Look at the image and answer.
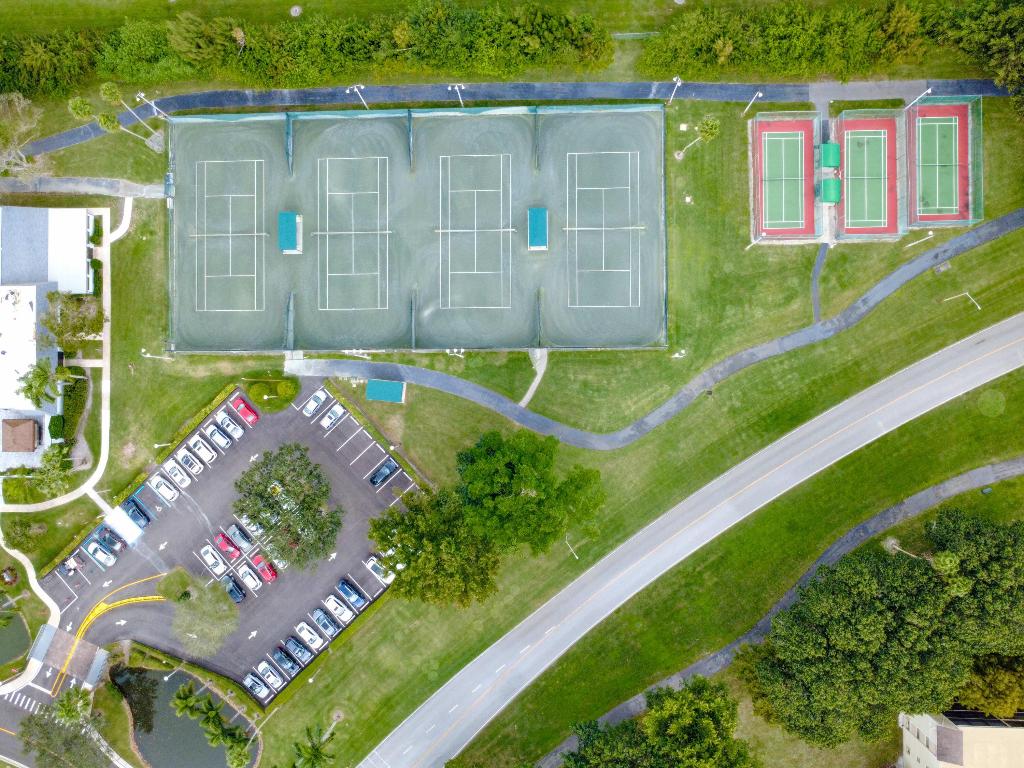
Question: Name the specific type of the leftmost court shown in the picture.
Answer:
tennis court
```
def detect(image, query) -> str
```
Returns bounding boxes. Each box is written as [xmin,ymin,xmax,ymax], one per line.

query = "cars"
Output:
[272,646,300,677]
[232,396,257,424]
[179,449,202,474]
[259,661,283,688]
[228,523,254,551]
[200,545,228,575]
[264,541,291,571]
[297,620,323,650]
[314,608,340,637]
[251,553,278,582]
[189,435,217,464]
[164,461,190,489]
[219,572,247,601]
[367,555,391,582]
[286,636,310,663]
[88,541,114,567]
[238,565,262,591]
[370,459,396,484]
[301,390,329,417]
[326,593,353,624]
[340,578,366,607]
[123,500,150,529]
[213,532,241,561]
[206,425,230,450]
[217,410,243,439]
[318,403,346,431]
[244,672,270,701]
[97,526,125,555]
[150,474,178,502]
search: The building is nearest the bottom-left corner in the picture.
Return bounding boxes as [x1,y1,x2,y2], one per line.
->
[2,419,42,452]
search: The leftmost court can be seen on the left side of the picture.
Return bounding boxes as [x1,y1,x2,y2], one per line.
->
[172,117,292,350]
